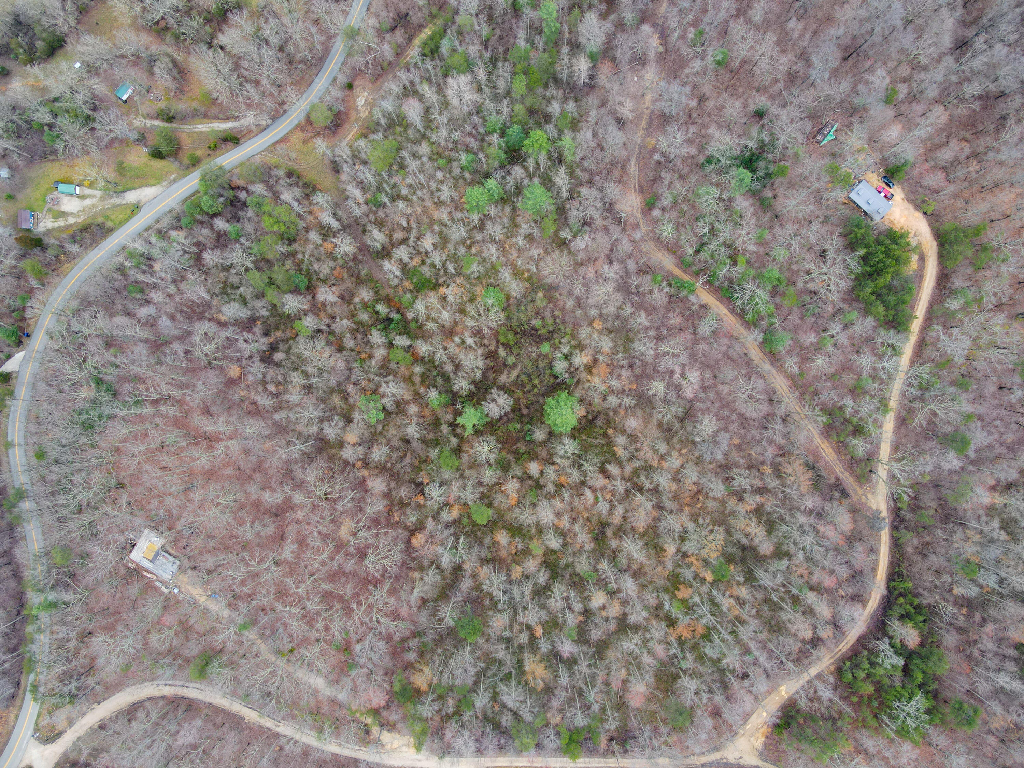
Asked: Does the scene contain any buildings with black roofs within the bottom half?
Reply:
No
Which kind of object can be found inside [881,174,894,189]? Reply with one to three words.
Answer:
vehicle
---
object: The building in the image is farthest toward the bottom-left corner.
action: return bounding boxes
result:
[129,531,180,581]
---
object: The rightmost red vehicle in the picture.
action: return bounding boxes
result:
[875,185,895,200]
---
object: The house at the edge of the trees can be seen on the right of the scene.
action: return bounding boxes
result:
[840,180,891,228]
